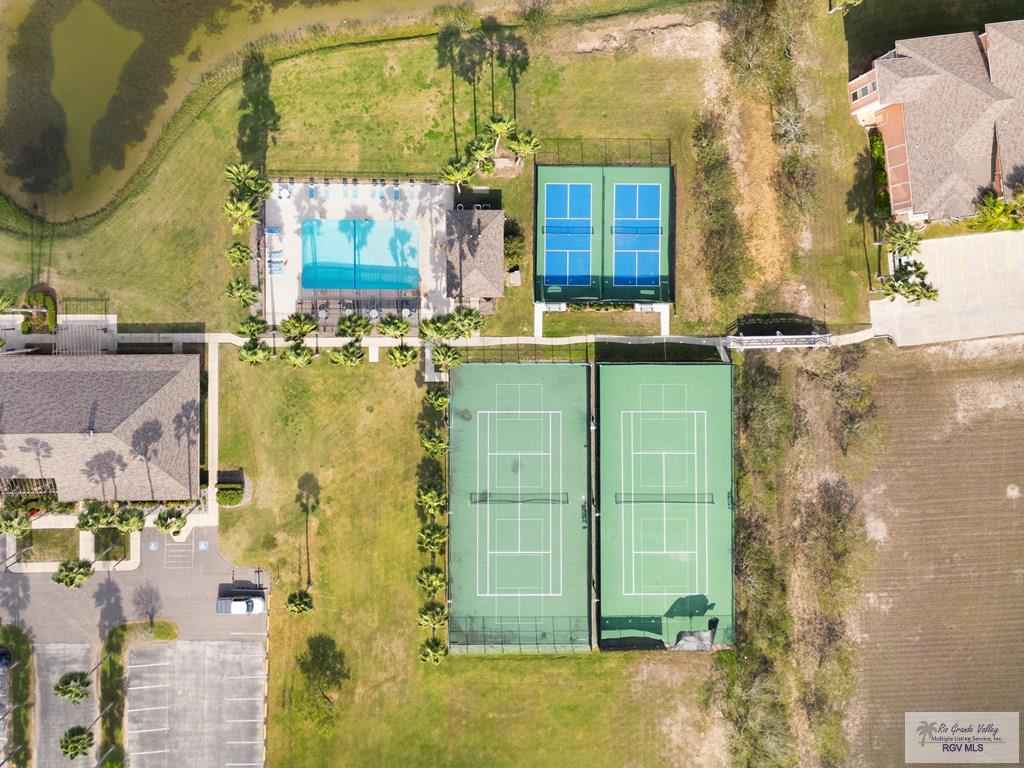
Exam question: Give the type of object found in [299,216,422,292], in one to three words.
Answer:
swimming pool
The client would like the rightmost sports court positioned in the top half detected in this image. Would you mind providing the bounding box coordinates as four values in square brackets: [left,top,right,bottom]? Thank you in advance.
[604,164,671,299]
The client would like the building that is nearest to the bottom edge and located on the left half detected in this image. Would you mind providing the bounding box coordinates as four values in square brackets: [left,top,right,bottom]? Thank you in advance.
[0,354,201,500]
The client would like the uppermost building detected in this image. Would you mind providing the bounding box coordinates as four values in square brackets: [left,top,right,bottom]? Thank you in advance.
[852,19,1024,223]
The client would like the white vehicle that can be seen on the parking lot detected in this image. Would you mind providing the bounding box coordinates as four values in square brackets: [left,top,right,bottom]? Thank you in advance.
[217,595,266,615]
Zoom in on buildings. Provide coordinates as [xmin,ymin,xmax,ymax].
[852,19,1024,223]
[447,210,504,298]
[0,354,201,500]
